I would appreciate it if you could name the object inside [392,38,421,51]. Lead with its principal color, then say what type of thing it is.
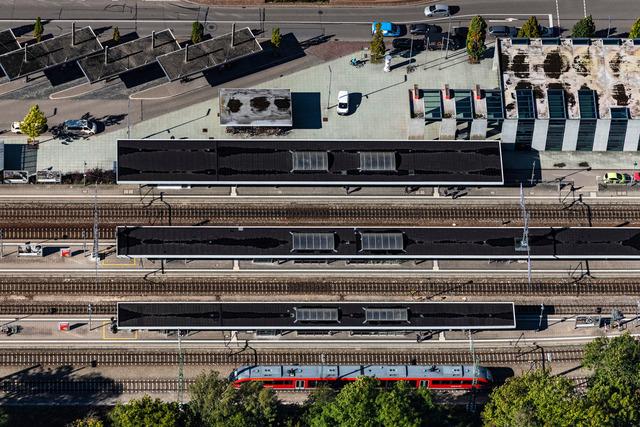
black vehicle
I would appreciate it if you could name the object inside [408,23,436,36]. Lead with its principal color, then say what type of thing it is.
black vehicle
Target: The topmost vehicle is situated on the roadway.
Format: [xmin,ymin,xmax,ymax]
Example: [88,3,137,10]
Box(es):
[424,3,450,16]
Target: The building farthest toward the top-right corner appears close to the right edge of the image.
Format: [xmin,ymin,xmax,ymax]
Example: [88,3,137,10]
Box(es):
[408,36,640,150]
